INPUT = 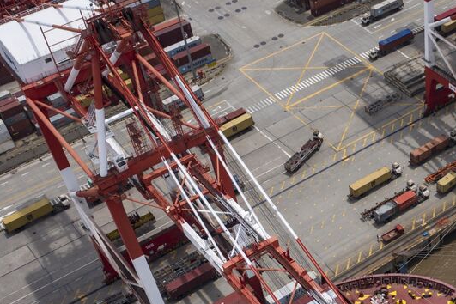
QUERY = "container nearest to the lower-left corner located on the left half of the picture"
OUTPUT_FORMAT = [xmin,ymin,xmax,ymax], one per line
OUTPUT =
[0,196,52,231]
